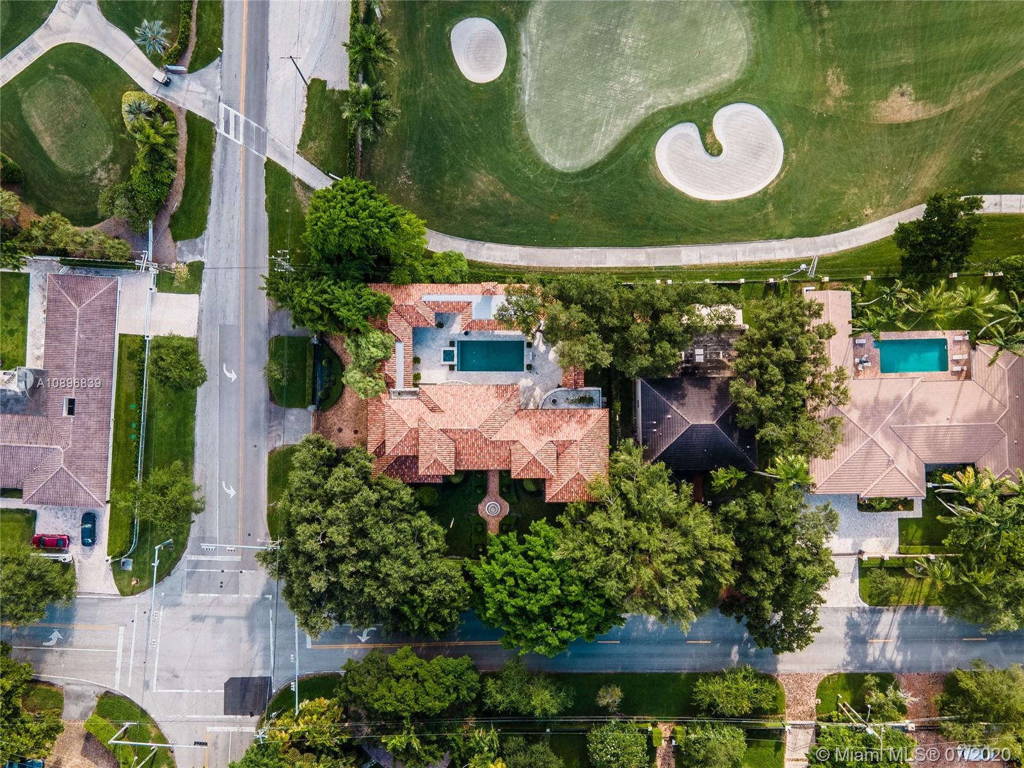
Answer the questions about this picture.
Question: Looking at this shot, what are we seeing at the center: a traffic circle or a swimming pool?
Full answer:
You can see a swimming pool at the center.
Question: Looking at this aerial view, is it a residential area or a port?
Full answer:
The area seen from above is a residential area.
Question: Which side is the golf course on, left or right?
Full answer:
The golf course appears in the right half of the scene.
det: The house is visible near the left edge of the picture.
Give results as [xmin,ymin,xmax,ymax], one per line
[0,274,125,507]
